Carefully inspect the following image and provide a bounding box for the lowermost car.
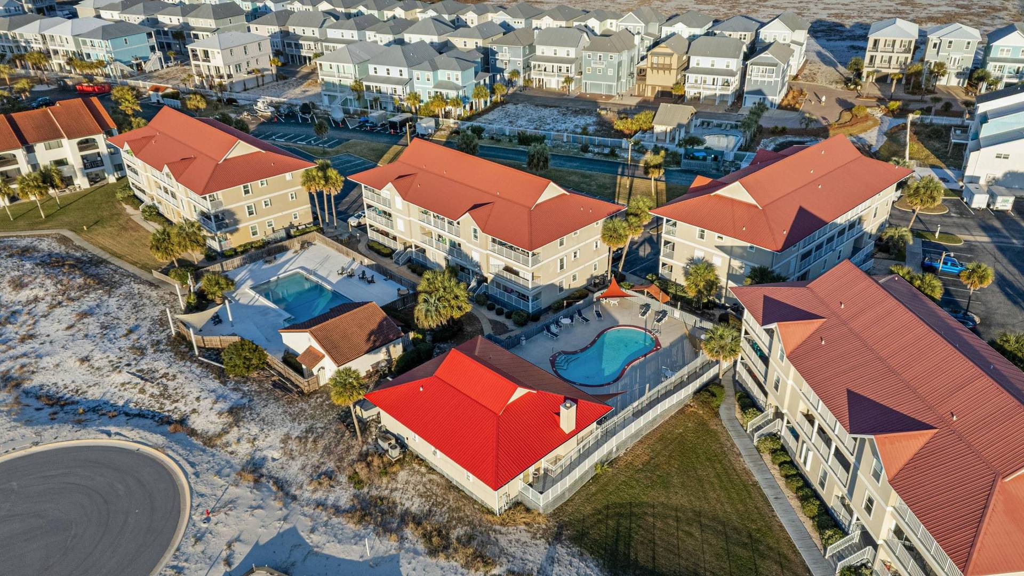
[946,308,983,330]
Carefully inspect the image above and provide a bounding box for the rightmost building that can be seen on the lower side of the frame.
[730,259,1024,576]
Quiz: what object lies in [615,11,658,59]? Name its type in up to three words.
house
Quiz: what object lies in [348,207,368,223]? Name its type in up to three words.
car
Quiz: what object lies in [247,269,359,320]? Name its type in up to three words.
swimming pool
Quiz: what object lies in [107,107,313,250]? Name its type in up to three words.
building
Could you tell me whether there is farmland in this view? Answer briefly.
No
